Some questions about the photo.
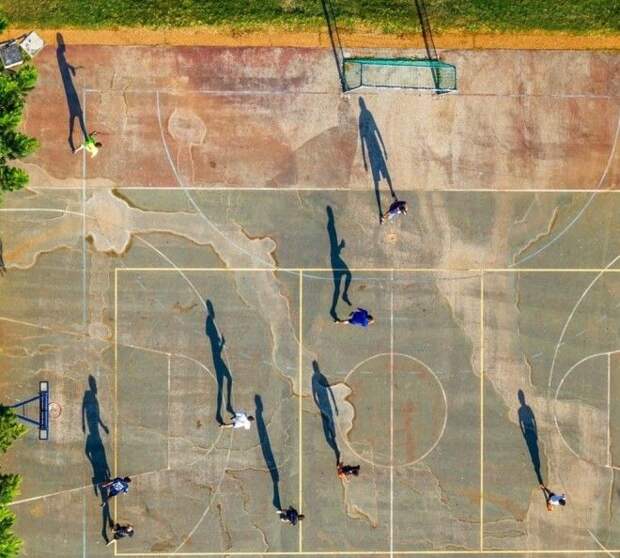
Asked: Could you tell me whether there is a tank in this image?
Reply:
No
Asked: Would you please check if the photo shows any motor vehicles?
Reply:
No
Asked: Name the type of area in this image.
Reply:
sports ground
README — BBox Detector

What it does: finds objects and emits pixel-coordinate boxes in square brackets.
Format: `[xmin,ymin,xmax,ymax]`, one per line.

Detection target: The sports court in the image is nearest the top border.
[0,45,620,322]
